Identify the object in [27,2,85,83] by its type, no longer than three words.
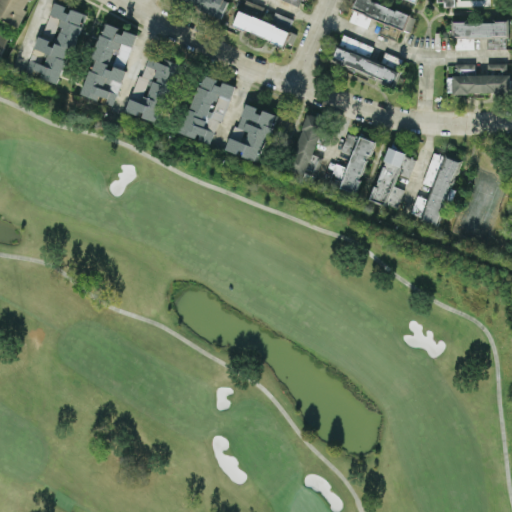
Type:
house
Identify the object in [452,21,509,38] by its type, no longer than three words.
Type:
house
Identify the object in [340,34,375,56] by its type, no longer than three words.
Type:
building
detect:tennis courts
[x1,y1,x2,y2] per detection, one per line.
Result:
[460,168,504,234]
